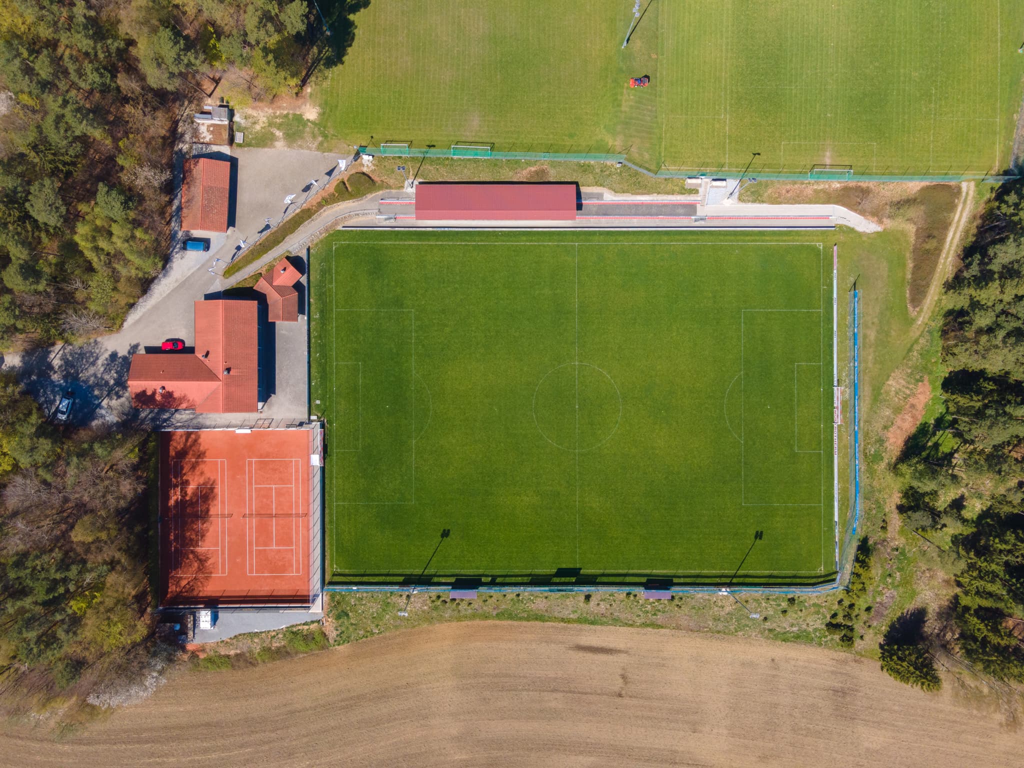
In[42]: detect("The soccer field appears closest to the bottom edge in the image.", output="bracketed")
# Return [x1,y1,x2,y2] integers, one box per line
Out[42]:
[310,230,834,585]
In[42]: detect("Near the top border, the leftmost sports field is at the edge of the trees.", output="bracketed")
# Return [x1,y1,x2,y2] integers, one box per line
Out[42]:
[326,0,623,154]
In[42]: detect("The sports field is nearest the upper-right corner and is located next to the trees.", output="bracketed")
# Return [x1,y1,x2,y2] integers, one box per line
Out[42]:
[663,0,1024,175]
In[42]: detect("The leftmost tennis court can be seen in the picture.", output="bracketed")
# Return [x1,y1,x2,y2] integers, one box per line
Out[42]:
[159,431,237,607]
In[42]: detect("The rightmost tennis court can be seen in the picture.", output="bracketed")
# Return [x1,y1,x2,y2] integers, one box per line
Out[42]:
[237,431,313,607]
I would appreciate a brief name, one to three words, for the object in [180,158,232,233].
building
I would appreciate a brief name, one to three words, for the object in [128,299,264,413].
building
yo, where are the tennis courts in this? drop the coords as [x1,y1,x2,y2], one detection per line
[159,431,237,607]
[237,431,313,607]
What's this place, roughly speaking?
sports ground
